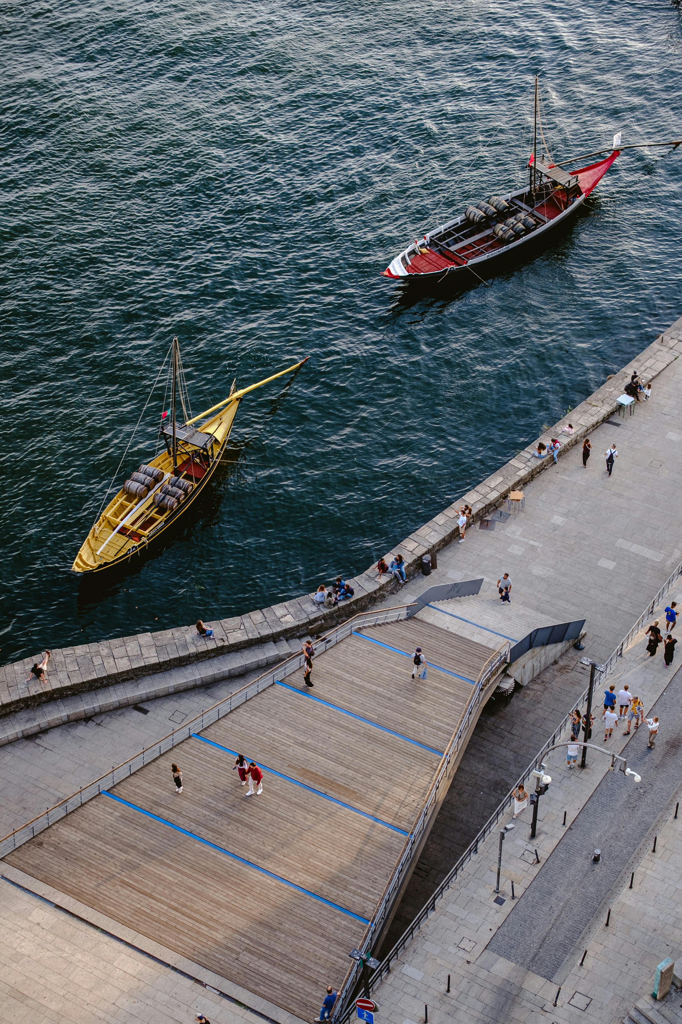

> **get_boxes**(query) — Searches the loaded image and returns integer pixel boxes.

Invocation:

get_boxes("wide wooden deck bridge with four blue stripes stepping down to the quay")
[0,614,504,1024]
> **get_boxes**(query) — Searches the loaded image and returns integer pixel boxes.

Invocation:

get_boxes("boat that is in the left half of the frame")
[67,335,313,579]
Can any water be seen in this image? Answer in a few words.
Yes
